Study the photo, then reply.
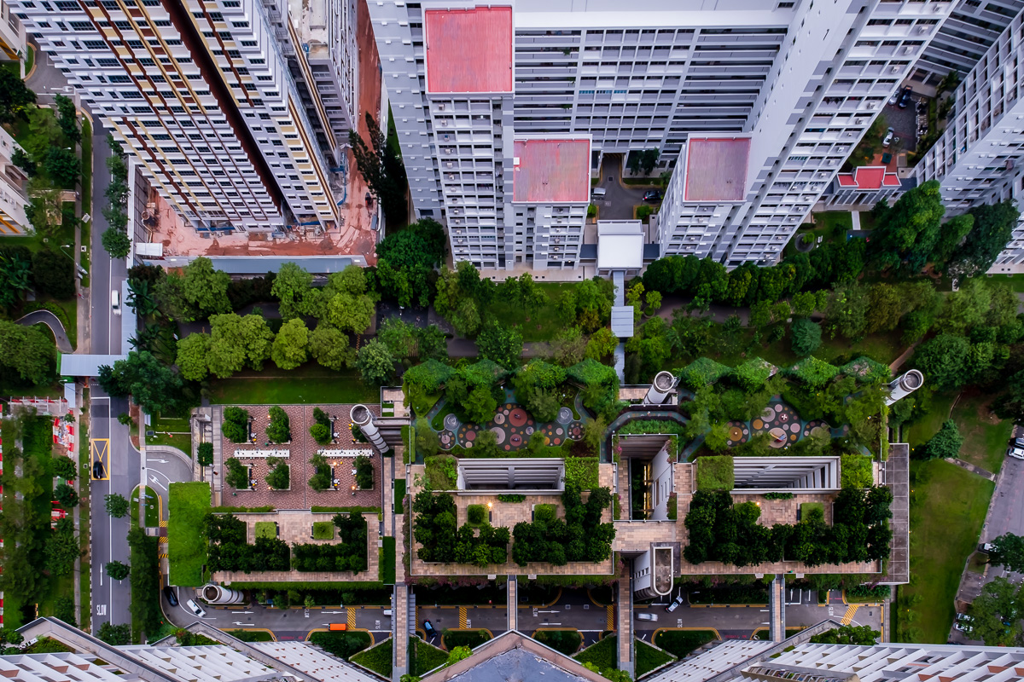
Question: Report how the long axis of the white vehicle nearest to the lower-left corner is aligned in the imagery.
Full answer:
In this picture, the white vehicle nearest to the lower-left corner is oriented on a diagonal.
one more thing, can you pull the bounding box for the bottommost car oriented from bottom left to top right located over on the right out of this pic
[663,594,684,614]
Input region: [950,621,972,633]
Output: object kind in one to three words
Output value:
vehicle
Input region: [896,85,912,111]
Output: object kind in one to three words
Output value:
car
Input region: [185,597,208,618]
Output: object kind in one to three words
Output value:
vehicle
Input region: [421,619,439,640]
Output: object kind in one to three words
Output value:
car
